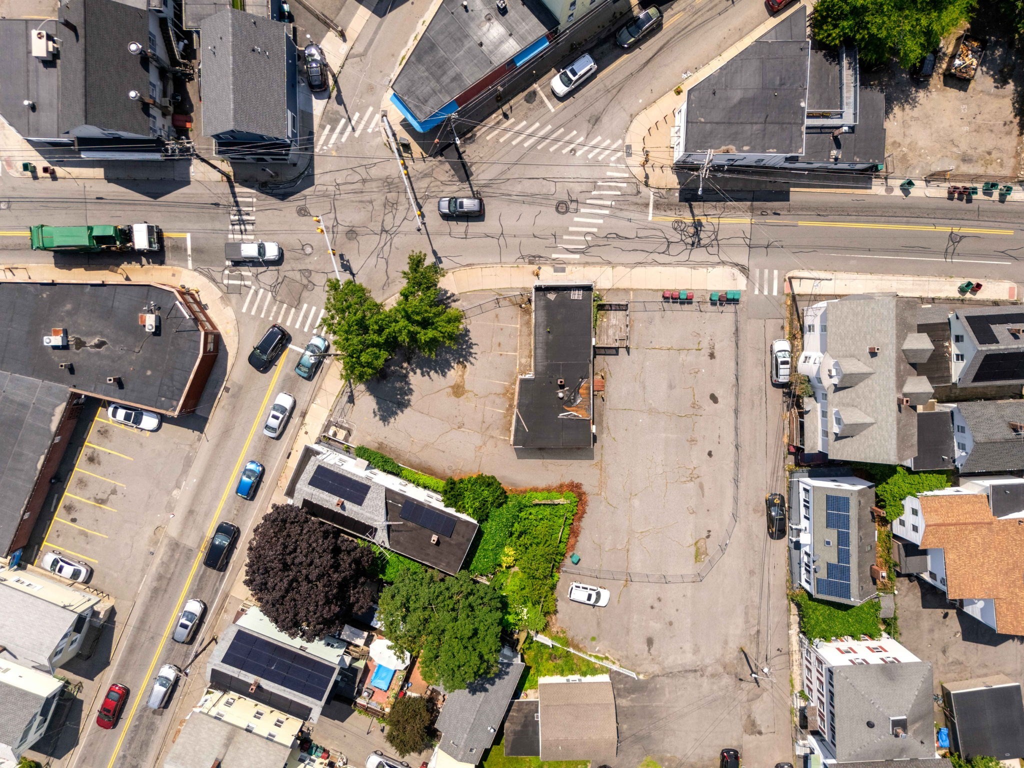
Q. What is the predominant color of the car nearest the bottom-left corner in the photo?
red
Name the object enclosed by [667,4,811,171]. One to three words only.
building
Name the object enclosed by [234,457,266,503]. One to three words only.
car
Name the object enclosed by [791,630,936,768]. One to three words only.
house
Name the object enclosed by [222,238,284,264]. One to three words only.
truck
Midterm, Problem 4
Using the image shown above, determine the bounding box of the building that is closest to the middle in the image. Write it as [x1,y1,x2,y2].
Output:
[513,284,596,447]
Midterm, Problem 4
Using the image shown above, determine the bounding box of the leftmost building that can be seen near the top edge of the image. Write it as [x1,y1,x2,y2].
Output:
[0,19,77,149]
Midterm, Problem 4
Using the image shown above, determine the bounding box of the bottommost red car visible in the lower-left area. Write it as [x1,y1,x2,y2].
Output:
[98,678,132,730]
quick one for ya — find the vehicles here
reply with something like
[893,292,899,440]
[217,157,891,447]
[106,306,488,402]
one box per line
[436,193,486,219]
[753,0,801,25]
[908,40,942,93]
[171,595,207,648]
[294,331,330,384]
[764,491,789,540]
[250,321,289,375]
[202,519,240,574]
[768,338,795,387]
[98,678,132,730]
[566,580,612,609]
[27,219,162,255]
[234,457,266,503]
[301,39,330,98]
[717,748,740,768]
[613,0,668,52]
[548,49,601,102]
[40,549,96,585]
[104,402,164,432]
[222,238,284,264]
[261,387,298,443]
[144,659,182,715]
